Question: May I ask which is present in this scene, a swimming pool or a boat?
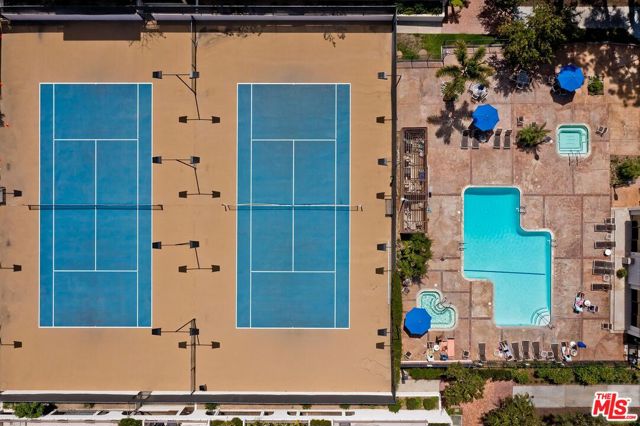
swimming pool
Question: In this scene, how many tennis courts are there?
2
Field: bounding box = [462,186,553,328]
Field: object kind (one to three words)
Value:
swimming pool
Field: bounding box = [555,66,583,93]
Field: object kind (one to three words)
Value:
umbrella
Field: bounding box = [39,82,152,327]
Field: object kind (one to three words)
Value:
tennis court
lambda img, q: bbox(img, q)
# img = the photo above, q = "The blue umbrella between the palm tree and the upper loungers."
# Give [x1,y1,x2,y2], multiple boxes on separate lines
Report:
[470,104,498,133]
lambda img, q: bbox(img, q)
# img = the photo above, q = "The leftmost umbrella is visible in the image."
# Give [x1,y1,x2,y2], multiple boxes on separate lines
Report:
[404,307,430,333]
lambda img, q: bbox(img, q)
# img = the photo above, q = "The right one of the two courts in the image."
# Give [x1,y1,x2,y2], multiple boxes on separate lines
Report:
[237,82,350,327]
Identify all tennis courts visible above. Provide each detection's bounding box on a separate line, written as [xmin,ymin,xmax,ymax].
[237,82,350,327]
[39,82,152,327]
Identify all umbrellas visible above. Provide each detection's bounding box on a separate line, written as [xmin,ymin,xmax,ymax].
[404,307,430,333]
[470,104,498,133]
[555,66,583,93]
